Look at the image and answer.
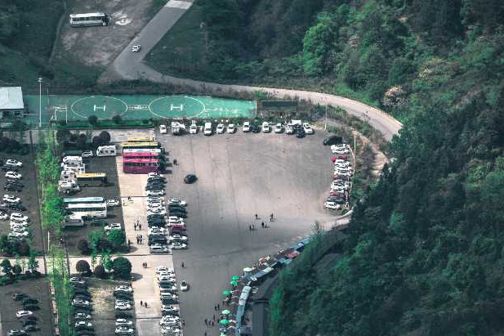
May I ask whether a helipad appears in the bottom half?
No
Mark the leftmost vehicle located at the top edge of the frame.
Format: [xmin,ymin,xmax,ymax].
[67,13,108,28]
